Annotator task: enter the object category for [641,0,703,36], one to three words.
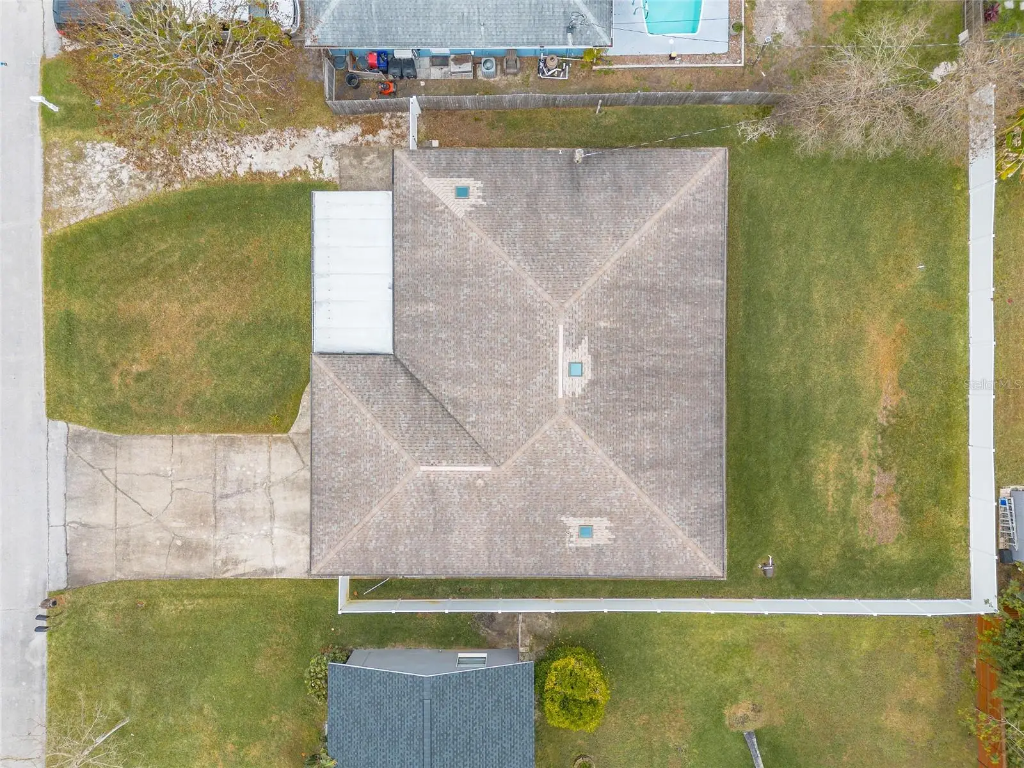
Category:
swimming pool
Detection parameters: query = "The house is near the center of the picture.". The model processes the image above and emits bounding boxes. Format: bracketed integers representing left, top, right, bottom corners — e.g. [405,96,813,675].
[309,147,729,580]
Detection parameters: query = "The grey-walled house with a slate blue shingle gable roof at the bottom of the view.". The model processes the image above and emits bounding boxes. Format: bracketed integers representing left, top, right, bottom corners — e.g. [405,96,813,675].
[323,650,533,768]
